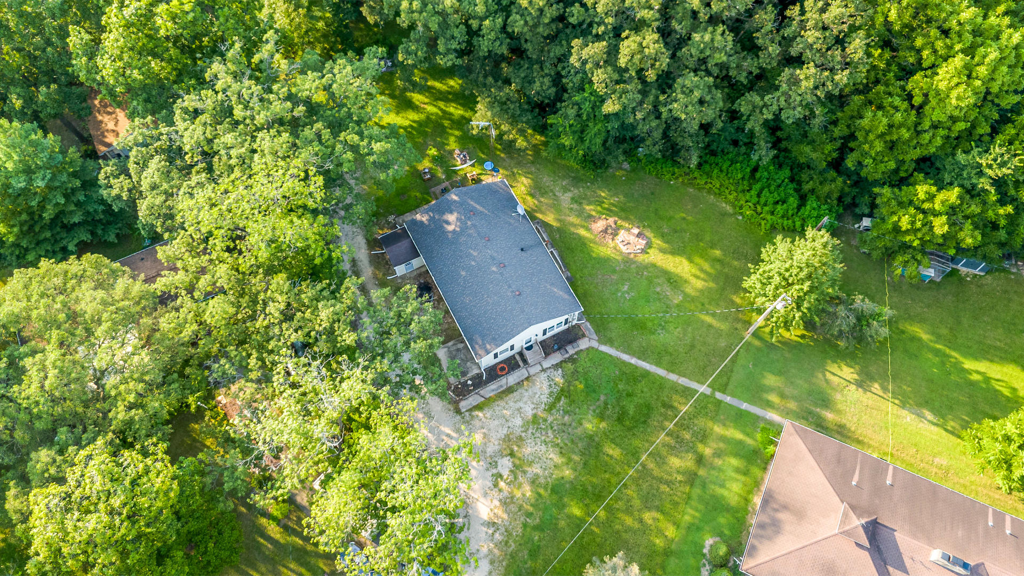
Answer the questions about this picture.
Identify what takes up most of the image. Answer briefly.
trees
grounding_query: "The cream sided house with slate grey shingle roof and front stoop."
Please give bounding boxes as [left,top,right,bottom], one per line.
[375,178,585,379]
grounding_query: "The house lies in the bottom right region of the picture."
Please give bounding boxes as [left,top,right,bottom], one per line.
[723,418,1024,576]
